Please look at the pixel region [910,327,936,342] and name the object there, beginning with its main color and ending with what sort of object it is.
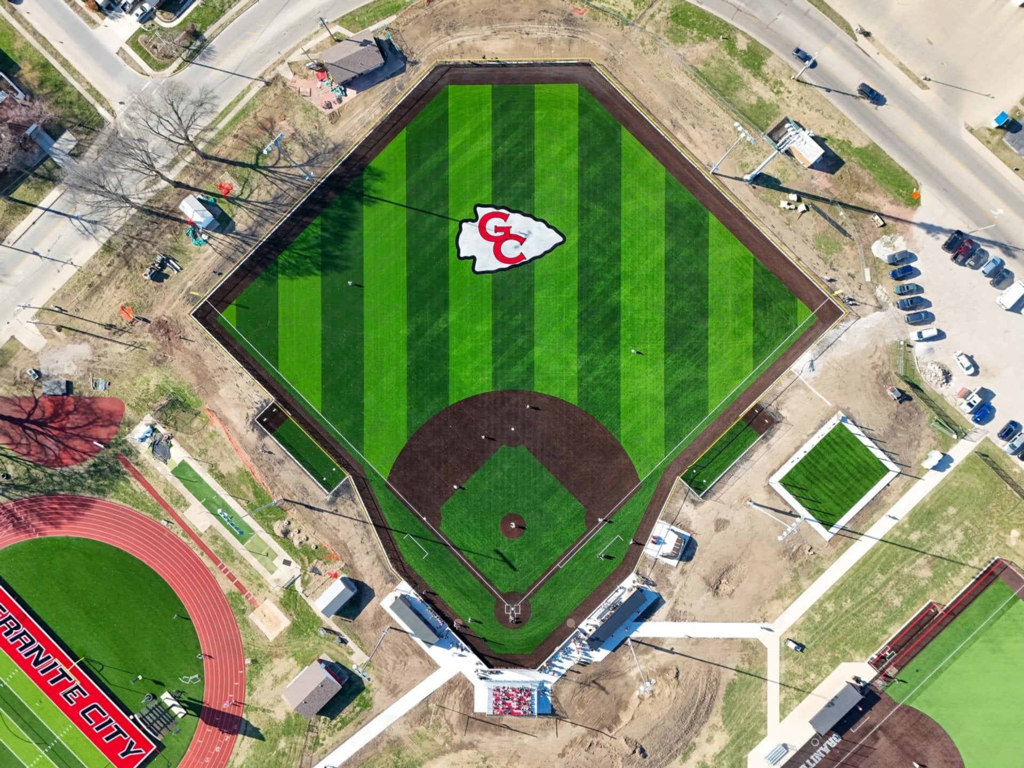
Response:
white car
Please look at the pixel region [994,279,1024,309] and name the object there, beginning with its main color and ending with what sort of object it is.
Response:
white van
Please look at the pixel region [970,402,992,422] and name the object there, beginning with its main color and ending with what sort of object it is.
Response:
blue car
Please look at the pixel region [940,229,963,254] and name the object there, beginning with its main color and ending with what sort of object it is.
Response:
black truck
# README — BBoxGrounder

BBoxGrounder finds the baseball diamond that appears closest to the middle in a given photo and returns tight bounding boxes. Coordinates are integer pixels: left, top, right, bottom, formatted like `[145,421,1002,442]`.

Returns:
[192,64,841,669]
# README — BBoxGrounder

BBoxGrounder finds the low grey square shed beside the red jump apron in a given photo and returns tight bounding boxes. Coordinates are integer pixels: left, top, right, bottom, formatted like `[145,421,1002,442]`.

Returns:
[43,379,70,395]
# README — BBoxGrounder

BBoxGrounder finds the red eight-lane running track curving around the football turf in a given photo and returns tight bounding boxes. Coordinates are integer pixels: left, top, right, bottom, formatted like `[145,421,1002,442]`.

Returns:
[0,493,243,768]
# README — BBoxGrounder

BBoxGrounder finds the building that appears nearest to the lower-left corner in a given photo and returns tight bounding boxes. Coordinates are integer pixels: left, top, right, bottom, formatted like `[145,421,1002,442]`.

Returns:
[284,652,343,719]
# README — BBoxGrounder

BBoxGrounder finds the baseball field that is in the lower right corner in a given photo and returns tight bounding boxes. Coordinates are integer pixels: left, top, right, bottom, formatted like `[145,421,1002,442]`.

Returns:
[785,557,1024,768]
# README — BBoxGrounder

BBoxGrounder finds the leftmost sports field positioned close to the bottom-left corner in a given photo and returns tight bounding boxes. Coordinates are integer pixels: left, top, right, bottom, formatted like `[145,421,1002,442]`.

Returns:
[0,533,204,768]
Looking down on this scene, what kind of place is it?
sports ground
